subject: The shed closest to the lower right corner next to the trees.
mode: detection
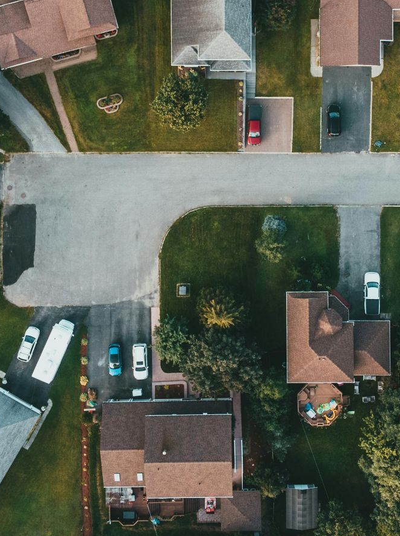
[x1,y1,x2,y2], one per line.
[286,479,319,530]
